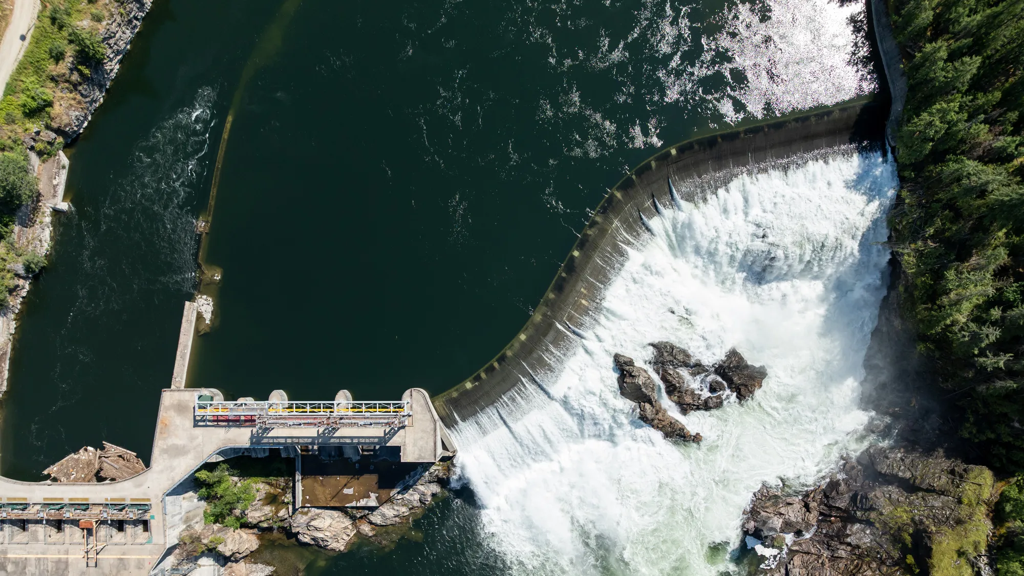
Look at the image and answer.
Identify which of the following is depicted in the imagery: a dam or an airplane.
dam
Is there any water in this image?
Yes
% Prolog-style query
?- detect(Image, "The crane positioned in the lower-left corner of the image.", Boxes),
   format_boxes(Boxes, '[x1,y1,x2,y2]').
[80,518,108,562]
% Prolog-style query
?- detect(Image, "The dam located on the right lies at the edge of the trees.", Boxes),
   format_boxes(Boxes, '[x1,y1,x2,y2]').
[432,94,881,438]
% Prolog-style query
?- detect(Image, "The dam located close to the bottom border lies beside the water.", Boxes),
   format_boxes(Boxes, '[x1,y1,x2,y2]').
[0,388,458,576]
